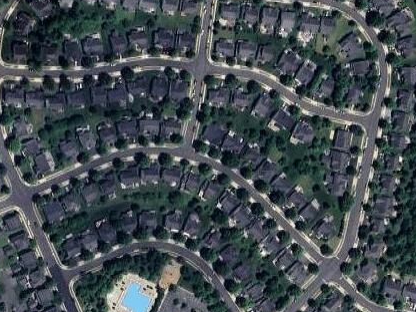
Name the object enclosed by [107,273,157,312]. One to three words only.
swimming pool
